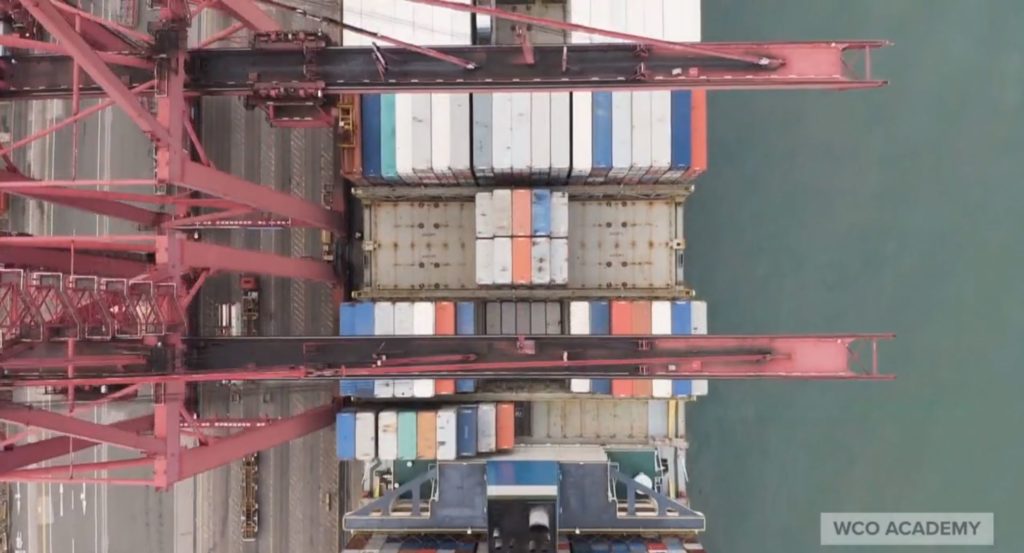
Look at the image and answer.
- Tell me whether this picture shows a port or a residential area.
port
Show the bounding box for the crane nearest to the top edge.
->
[0,0,888,251]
